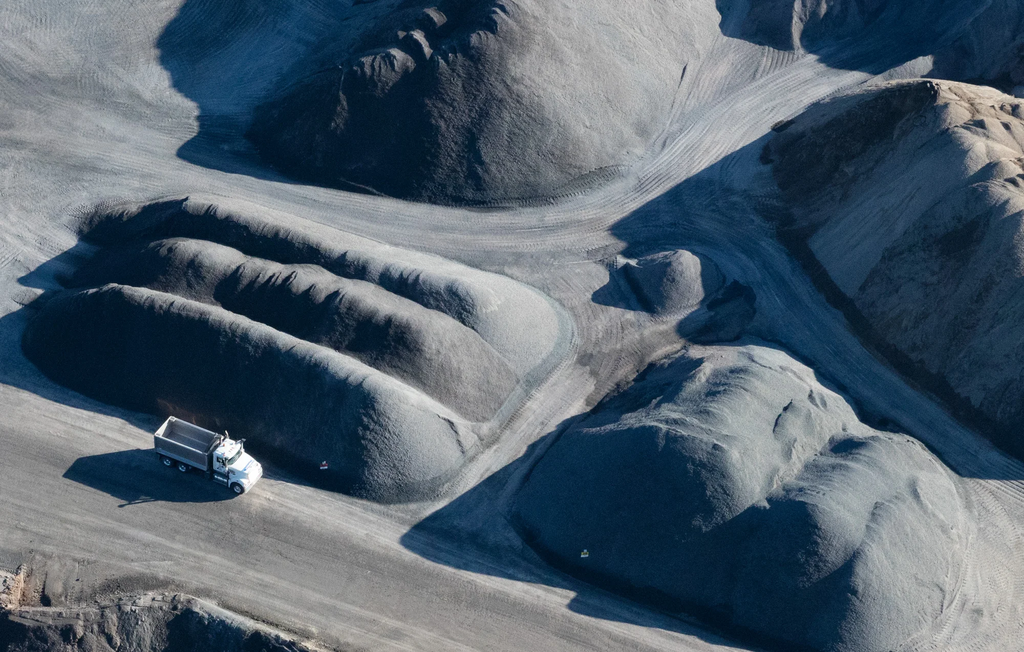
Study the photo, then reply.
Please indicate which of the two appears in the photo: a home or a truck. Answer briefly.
truck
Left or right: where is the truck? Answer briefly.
left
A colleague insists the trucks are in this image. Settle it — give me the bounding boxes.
[154,415,263,494]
